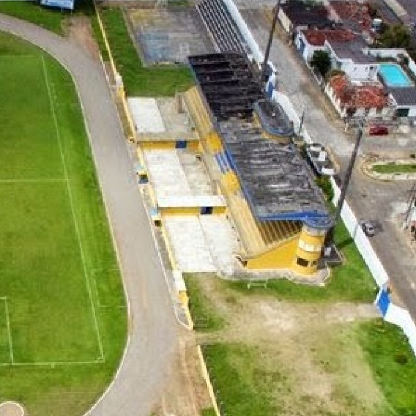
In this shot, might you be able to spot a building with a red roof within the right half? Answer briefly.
Yes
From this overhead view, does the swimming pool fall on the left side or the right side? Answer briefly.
right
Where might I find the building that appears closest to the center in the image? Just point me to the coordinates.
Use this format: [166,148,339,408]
[158,188,230,213]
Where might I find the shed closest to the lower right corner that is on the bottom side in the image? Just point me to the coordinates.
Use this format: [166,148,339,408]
[326,242,355,273]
